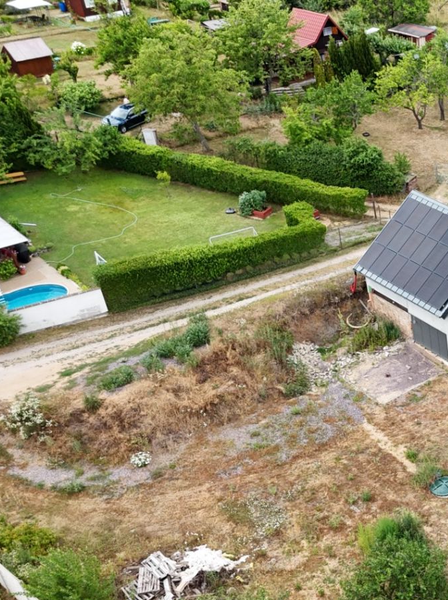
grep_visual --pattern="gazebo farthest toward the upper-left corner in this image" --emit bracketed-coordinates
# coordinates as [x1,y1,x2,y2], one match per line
[5,0,54,26]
